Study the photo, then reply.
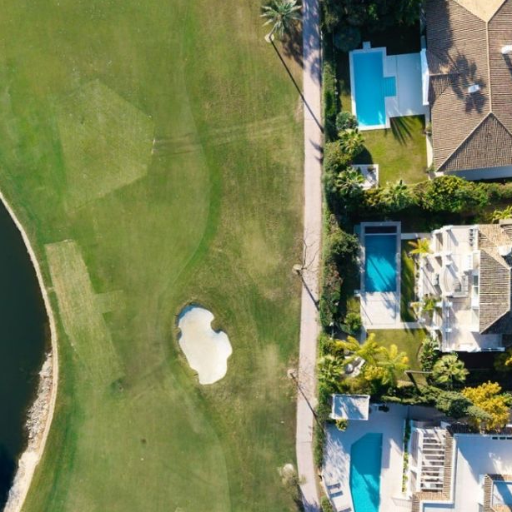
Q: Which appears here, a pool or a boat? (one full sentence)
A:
The image shows a pool.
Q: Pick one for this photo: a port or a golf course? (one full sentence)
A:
The picture captures a golf course.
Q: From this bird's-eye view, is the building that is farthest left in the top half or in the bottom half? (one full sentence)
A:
The building that is farthest left is in the bottom half of the image.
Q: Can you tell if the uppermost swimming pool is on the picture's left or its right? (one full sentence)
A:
The uppermost swimming pool sits on the right side.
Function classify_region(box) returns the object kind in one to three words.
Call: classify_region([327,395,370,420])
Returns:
building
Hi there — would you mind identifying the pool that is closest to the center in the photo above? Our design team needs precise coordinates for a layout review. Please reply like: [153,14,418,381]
[359,221,419,330]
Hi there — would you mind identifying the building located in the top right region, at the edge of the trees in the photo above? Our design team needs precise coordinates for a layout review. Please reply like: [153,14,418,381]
[410,0,512,171]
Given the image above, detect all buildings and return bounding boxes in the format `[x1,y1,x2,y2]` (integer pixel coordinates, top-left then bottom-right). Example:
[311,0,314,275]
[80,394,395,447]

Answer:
[410,0,512,171]
[415,219,512,352]
[404,422,512,512]
[327,395,370,420]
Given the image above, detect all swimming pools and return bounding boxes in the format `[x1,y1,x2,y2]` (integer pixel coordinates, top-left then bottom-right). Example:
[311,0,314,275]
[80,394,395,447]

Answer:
[359,221,419,330]
[349,41,426,130]
[323,405,410,512]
